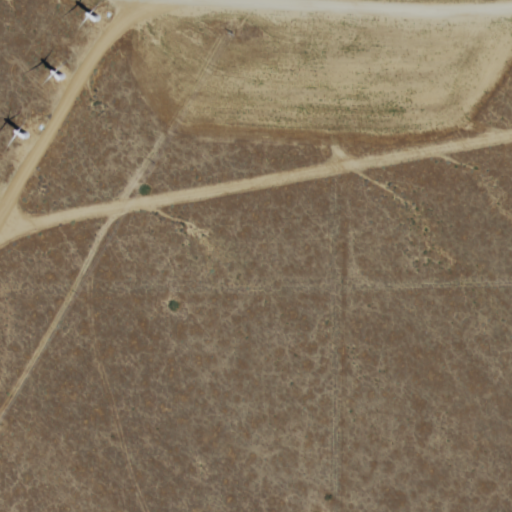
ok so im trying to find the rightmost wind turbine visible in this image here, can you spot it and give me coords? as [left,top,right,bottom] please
[76,0,102,26]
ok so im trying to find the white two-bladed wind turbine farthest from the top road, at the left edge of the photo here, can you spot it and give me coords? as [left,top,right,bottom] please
[4,116,31,148]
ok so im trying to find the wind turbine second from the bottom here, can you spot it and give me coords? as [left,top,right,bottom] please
[40,59,67,86]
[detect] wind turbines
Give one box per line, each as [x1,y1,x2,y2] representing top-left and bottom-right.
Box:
[40,59,67,86]
[4,116,31,148]
[76,0,102,26]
